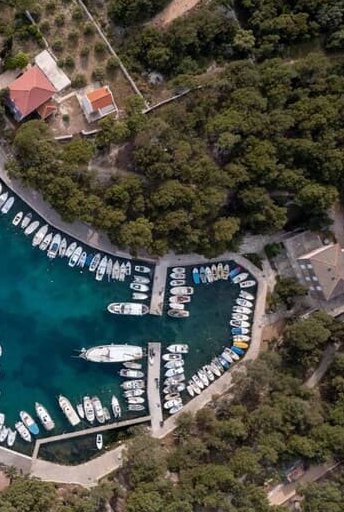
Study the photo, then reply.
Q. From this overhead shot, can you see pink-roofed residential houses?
Yes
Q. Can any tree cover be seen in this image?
Yes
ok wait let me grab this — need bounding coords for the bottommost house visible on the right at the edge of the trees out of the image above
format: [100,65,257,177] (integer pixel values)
[266,483,296,504]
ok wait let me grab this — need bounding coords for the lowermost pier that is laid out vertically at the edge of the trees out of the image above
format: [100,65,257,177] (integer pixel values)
[146,342,164,438]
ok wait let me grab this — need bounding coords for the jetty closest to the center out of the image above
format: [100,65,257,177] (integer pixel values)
[150,263,167,315]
